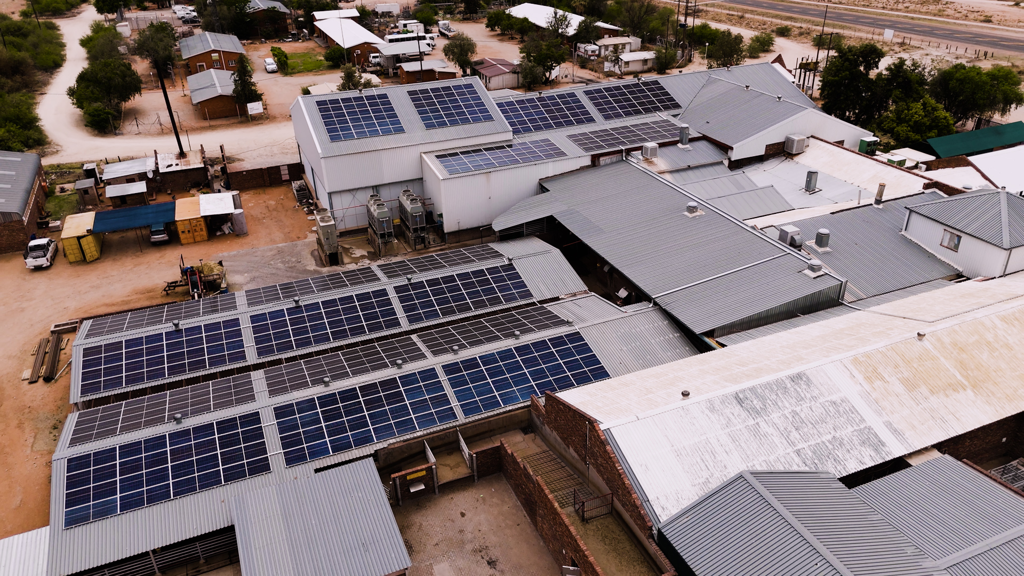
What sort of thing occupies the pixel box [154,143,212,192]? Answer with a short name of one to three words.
house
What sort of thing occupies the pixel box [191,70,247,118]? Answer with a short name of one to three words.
house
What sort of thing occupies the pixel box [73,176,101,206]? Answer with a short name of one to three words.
shed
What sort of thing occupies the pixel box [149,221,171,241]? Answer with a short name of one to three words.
car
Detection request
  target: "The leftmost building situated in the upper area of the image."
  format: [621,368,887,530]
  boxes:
[0,152,52,255]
